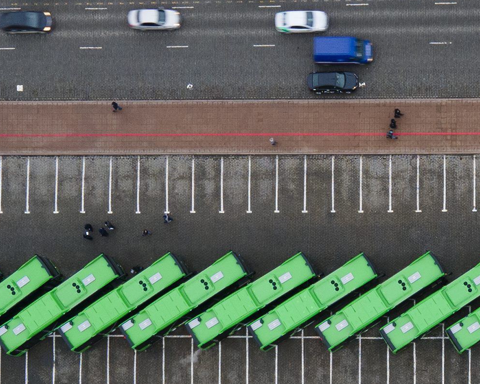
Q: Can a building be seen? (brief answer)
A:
No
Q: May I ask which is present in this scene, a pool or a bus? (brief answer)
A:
bus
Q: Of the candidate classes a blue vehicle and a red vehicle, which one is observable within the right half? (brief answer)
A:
blue vehicle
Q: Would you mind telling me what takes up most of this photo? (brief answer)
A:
paved ground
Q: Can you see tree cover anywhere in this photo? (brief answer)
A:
No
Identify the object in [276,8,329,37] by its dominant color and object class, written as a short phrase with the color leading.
white car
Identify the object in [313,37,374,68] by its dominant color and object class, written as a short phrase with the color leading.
blue van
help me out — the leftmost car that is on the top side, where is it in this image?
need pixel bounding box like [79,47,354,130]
[2,9,54,38]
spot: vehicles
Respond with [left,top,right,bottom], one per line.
[0,251,132,358]
[245,250,388,355]
[308,69,360,97]
[2,9,54,38]
[313,37,374,68]
[0,252,67,326]
[129,6,182,34]
[184,249,327,352]
[276,8,329,37]
[378,264,480,357]
[55,250,198,356]
[444,307,480,357]
[116,247,259,353]
[313,249,455,356]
